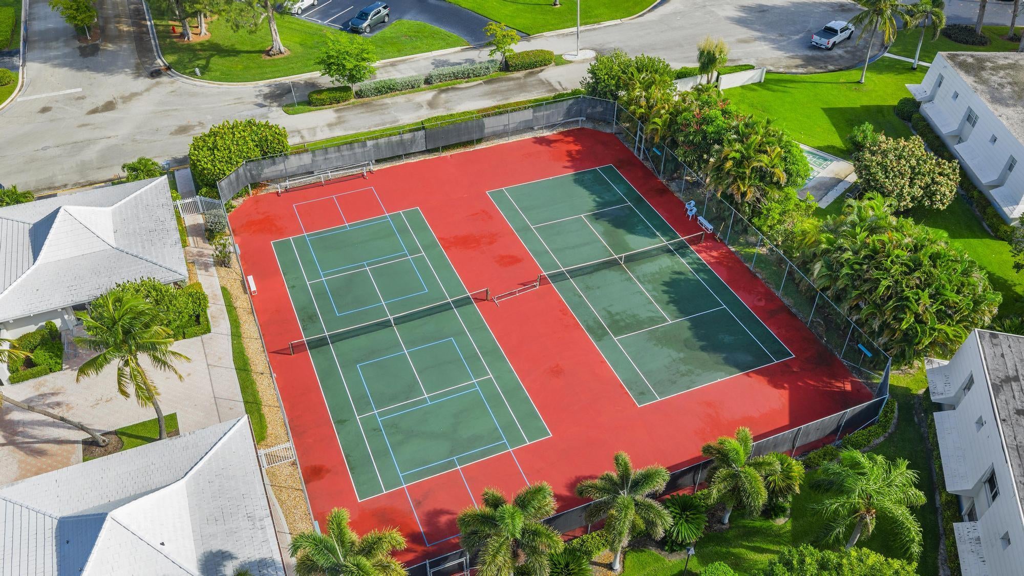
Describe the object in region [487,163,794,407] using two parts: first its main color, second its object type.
green tennis court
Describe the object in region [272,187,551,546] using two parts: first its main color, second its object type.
green tennis court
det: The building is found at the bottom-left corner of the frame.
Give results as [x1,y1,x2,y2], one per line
[0,413,287,576]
